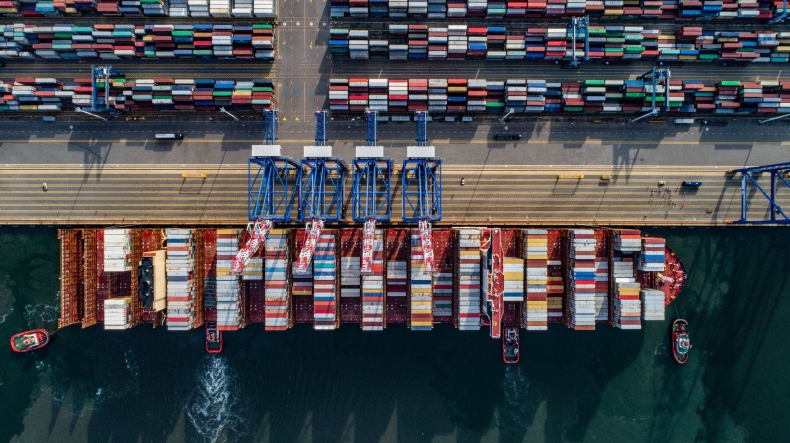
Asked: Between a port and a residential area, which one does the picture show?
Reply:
port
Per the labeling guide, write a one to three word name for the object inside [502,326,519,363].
boat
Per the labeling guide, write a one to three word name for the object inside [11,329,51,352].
boat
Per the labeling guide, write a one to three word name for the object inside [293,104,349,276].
container crane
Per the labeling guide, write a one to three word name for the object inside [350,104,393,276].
container crane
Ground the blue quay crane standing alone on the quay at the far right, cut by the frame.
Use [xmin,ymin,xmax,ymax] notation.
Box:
[727,159,790,223]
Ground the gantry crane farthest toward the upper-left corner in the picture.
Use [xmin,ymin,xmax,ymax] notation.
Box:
[92,66,127,118]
